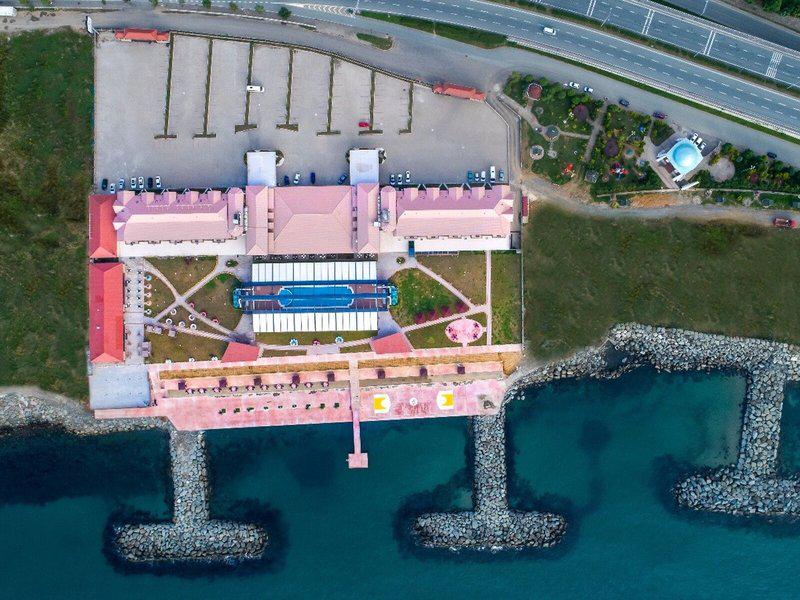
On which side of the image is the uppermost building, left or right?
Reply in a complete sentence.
It is on the left.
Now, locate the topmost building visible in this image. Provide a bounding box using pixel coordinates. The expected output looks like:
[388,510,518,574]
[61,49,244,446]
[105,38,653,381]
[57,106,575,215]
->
[111,23,169,44]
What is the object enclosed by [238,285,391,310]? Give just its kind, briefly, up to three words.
swimming pool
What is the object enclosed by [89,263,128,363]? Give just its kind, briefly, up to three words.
shed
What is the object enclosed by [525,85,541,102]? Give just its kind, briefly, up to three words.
gazebo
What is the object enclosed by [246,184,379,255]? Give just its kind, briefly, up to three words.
building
